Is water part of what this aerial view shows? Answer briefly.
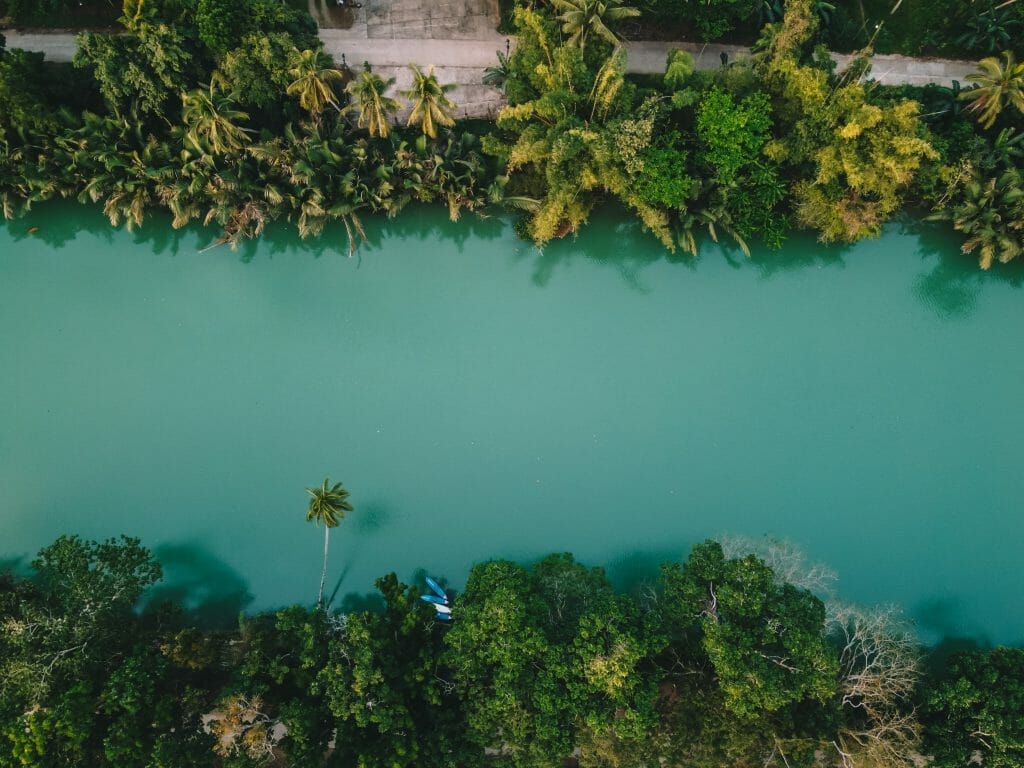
Yes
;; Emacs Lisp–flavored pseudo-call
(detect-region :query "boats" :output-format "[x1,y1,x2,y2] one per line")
[433,603,451,612]
[421,596,449,603]
[430,612,451,619]
[425,577,446,599]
